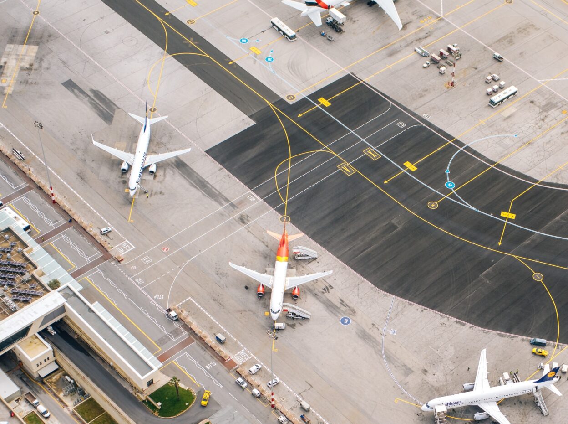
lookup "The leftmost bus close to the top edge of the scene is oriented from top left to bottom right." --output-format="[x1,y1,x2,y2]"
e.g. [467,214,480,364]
[270,18,298,41]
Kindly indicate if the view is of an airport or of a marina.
airport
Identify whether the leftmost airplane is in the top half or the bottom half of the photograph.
top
